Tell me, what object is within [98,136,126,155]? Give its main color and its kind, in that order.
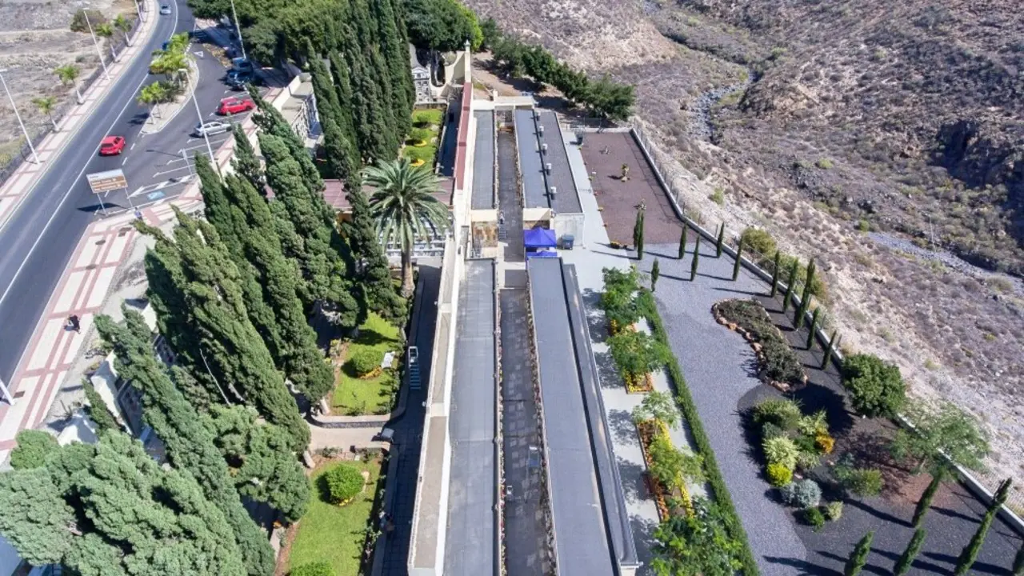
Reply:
red car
